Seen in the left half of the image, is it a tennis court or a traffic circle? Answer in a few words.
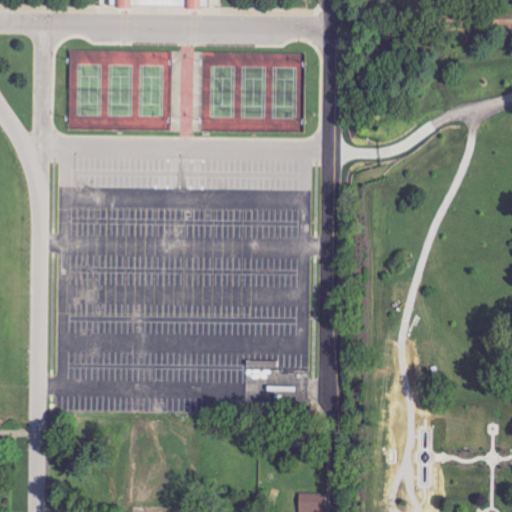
tennis court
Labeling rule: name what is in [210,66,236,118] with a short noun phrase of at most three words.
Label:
tennis court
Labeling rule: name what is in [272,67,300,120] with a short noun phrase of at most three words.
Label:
tennis court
